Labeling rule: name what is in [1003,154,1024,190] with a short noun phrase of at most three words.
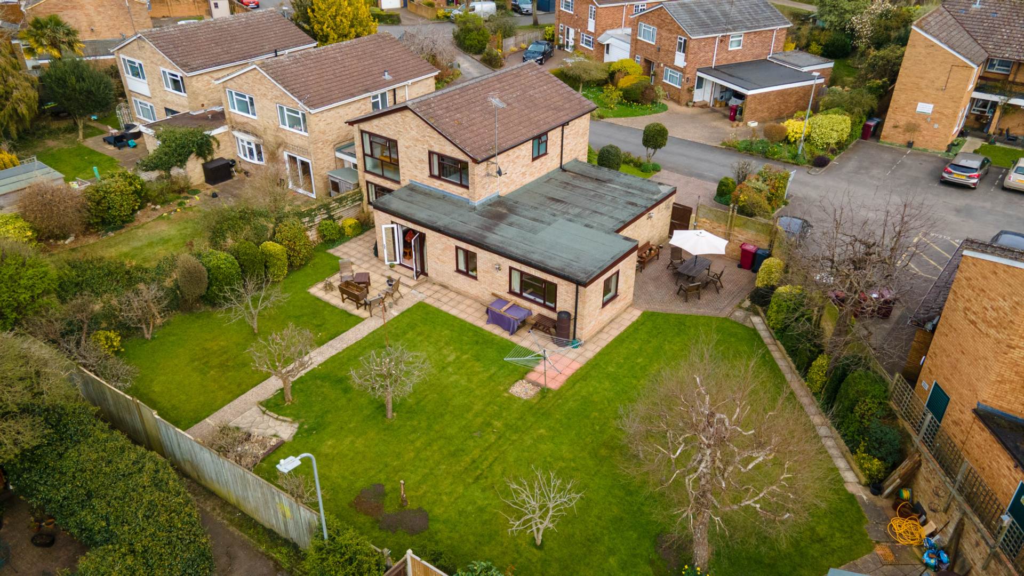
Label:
car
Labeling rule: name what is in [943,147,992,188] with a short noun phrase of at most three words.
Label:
car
